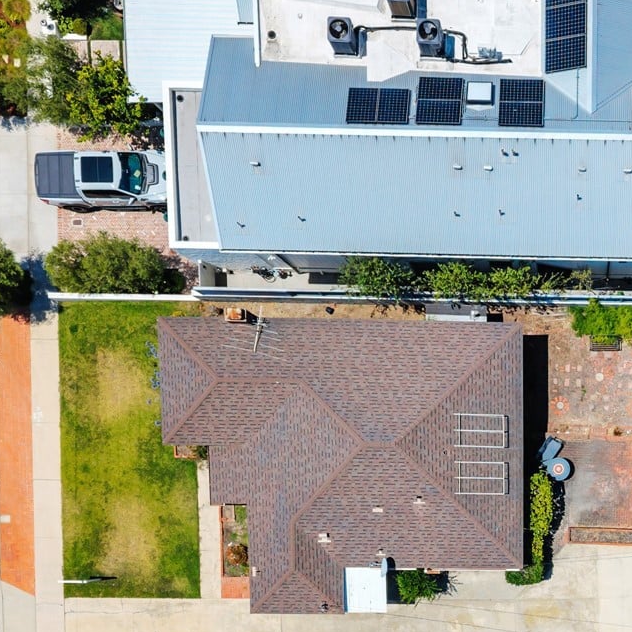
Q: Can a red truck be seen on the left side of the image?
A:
No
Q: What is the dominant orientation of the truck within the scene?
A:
from side to side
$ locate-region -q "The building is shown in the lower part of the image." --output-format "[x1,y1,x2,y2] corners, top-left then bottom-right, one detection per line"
[155,305,526,616]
